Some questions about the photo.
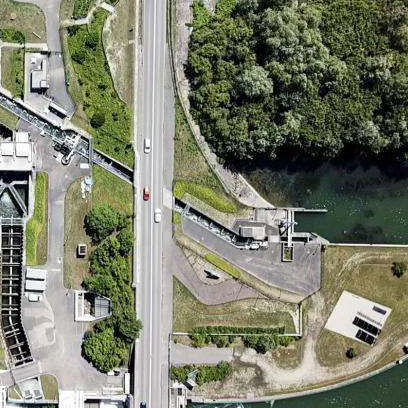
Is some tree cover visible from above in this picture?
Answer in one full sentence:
Yes, tree cover shows up in the scene.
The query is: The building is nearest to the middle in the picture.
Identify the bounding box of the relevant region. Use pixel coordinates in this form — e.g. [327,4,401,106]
[235,226,267,238]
